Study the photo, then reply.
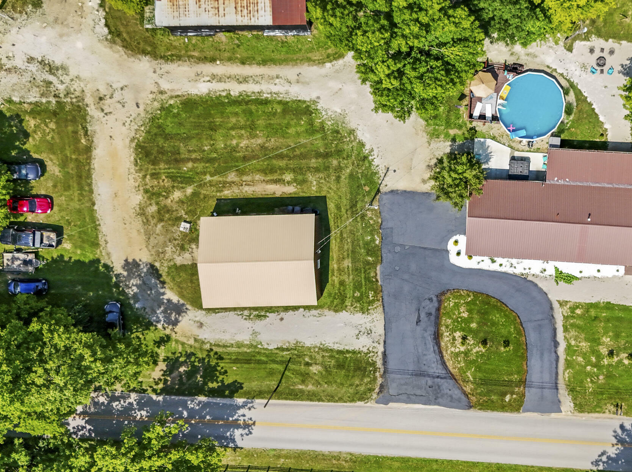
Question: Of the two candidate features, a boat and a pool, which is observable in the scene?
pool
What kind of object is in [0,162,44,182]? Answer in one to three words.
car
